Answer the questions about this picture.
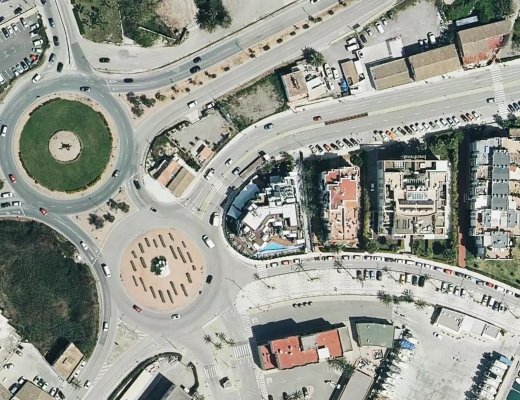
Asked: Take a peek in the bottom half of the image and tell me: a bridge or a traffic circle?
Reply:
traffic circle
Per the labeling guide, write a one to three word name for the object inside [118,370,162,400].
building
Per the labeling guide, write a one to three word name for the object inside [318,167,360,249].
building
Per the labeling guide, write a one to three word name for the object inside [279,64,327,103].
house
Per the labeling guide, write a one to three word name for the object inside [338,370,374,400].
shed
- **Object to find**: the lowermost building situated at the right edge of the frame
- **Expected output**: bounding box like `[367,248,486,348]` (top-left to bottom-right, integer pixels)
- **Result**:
[436,309,501,339]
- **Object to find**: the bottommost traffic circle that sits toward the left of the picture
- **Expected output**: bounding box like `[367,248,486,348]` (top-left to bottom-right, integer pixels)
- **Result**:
[97,205,227,335]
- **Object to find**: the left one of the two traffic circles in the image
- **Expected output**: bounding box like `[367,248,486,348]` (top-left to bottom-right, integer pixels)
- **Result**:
[0,76,136,216]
